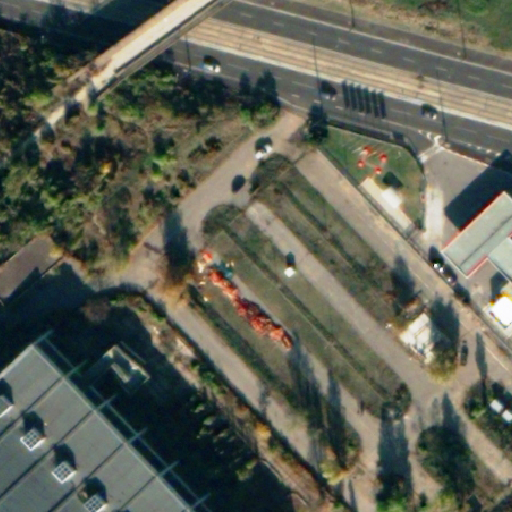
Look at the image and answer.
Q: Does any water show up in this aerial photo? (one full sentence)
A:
No, the picture contains no water.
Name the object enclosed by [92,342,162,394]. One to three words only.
house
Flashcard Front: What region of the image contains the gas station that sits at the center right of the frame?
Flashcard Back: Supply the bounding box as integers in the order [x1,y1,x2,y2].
[442,192,512,282]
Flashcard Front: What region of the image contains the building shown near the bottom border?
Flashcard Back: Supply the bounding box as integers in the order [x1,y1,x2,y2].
[0,327,232,512]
